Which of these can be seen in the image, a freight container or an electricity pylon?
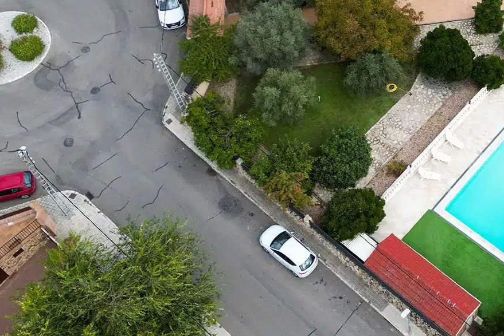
electricity pylon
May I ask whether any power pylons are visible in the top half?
Yes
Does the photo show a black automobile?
No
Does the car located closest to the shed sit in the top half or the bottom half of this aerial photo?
bottom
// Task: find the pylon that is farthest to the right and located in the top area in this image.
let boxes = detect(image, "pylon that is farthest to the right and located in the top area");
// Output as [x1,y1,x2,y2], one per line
[150,47,189,113]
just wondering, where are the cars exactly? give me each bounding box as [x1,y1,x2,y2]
[154,0,185,32]
[256,225,322,280]
[0,171,37,201]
